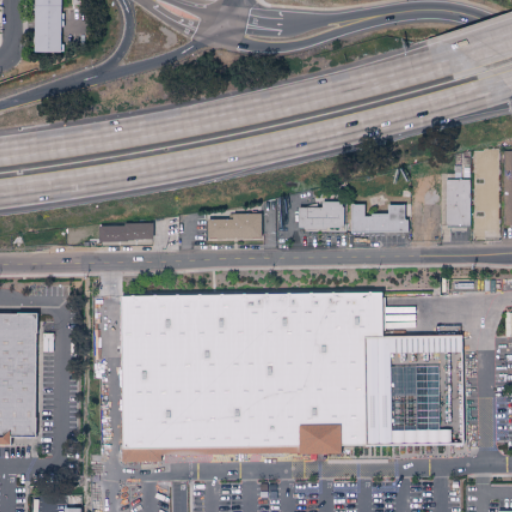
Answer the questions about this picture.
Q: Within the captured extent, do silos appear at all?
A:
No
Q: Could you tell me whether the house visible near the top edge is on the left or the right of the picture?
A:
left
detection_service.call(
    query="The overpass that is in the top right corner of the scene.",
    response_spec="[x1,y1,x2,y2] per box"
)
[426,10,512,113]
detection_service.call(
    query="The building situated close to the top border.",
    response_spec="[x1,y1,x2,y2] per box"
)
[34,0,64,52]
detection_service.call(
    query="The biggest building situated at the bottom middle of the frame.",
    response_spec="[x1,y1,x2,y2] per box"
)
[122,292,384,462]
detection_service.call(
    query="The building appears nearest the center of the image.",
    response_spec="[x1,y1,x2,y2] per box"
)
[208,214,262,241]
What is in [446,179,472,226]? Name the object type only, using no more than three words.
building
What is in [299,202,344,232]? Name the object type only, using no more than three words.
building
